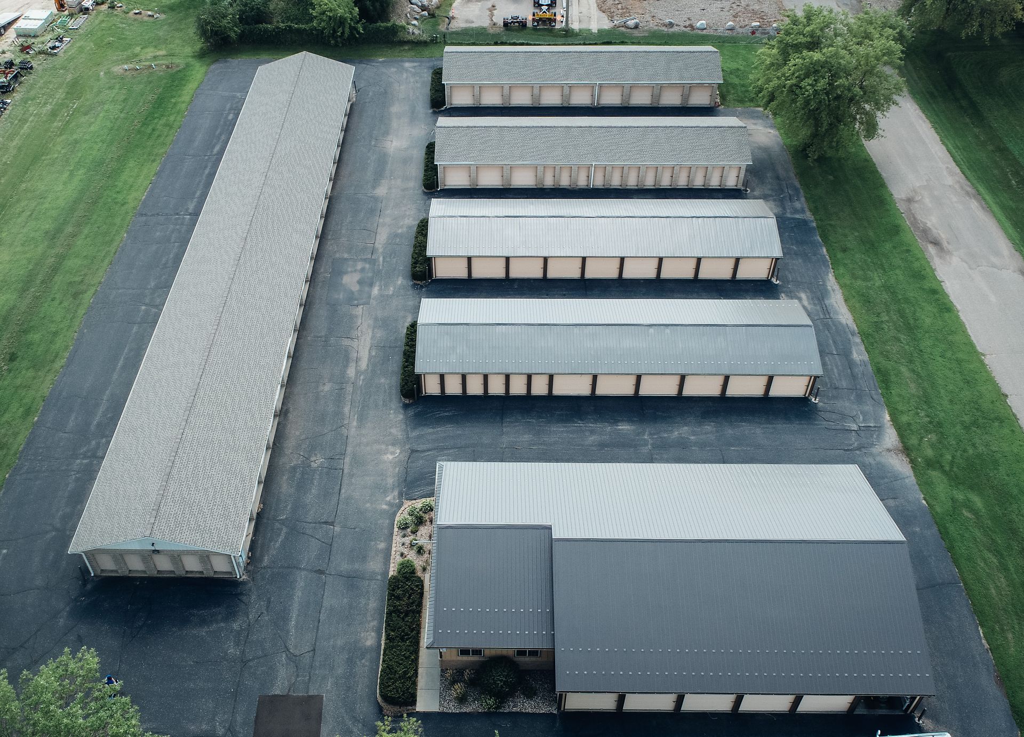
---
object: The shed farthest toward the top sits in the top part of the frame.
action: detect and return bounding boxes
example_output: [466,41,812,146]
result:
[441,46,725,107]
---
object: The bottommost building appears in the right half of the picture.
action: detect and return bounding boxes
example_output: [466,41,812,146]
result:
[412,463,933,715]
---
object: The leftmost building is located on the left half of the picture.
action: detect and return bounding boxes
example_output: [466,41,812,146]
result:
[69,51,355,580]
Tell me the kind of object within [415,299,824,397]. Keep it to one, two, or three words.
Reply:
shed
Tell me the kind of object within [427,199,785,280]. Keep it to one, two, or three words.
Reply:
shed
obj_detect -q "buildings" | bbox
[427,199,785,280]
[441,46,725,107]
[434,117,753,189]
[412,463,933,715]
[415,299,824,397]
[69,51,355,580]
